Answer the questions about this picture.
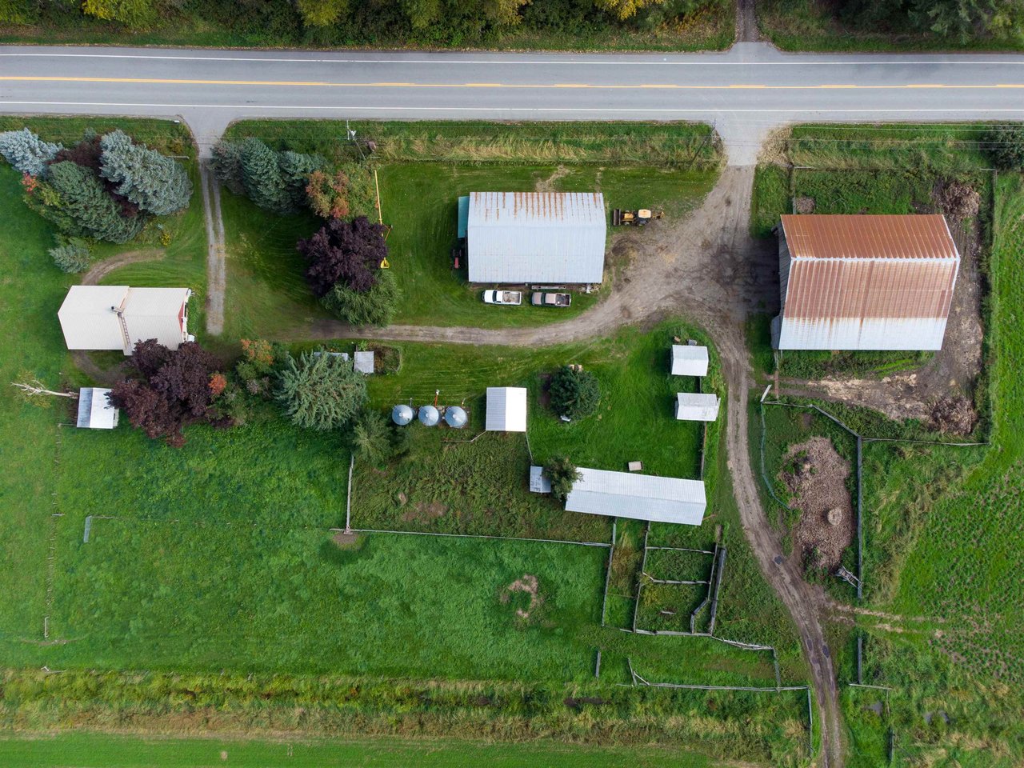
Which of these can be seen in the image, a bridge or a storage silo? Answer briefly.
storage silo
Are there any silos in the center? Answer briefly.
Yes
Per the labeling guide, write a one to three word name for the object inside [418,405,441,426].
silo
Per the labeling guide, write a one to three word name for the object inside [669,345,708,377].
shed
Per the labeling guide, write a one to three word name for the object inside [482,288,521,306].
vehicle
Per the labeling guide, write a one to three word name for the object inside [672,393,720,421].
shed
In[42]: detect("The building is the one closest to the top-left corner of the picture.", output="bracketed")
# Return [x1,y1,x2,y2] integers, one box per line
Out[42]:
[58,285,194,357]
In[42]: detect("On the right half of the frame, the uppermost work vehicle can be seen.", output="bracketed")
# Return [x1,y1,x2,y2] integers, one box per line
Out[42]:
[613,210,657,228]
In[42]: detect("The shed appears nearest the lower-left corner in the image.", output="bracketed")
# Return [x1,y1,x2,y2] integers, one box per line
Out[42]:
[77,388,122,429]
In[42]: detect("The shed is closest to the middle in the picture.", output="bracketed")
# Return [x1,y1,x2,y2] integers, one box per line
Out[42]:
[486,387,527,432]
